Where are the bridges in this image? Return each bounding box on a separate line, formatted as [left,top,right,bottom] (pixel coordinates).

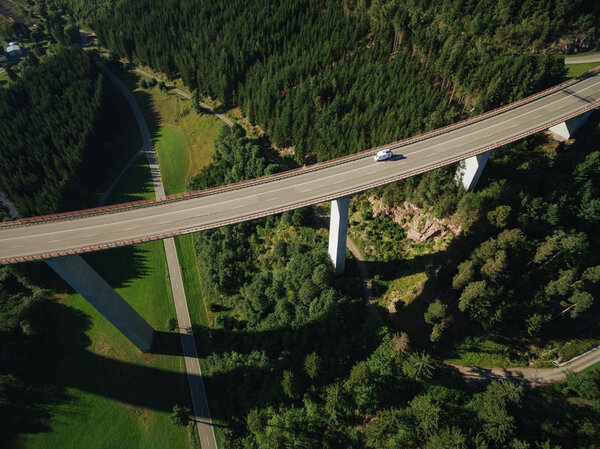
[0,65,600,352]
